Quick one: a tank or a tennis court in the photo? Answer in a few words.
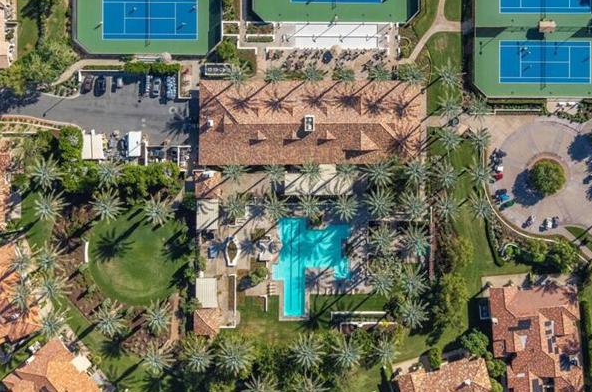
tennis court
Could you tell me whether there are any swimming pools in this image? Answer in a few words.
Yes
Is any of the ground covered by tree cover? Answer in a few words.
Yes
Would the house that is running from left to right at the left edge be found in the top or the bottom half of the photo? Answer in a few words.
bottom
